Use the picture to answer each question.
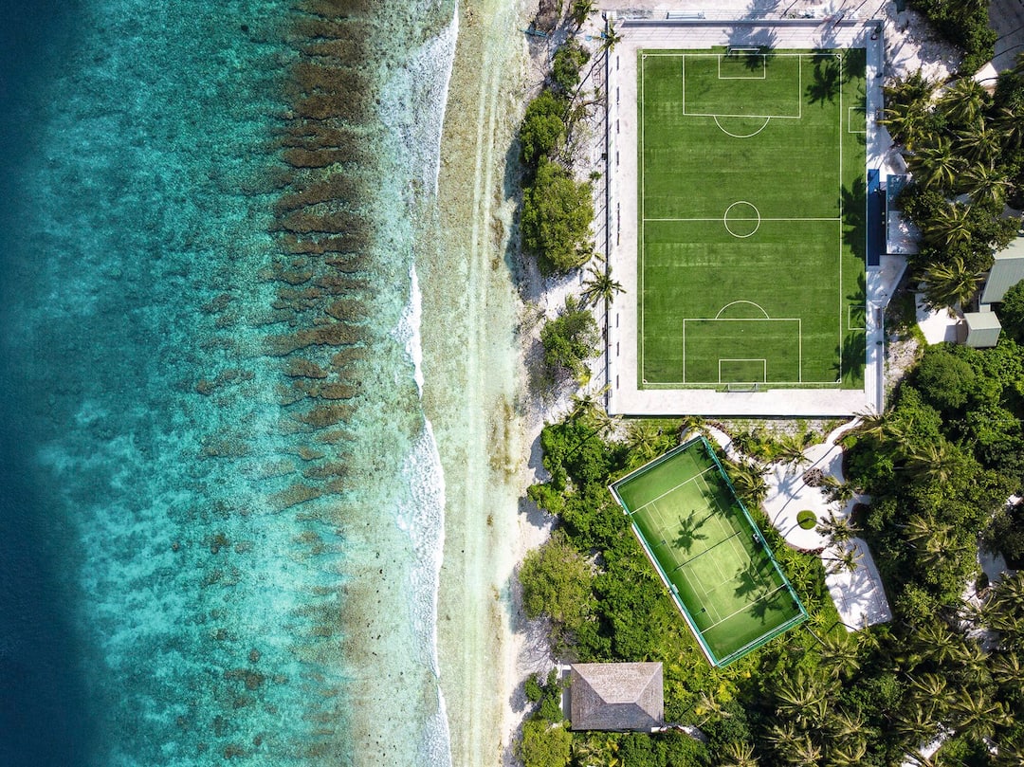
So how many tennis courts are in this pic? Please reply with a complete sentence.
I count 1 tennis court.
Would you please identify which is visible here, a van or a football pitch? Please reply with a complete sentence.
Of the two, only a football pitch appears.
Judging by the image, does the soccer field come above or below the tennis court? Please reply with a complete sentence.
You can see the soccer field above the tennis court in the frame.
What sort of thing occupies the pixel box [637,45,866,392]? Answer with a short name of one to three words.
soccer field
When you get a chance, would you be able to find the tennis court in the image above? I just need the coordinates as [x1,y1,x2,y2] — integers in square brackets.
[614,437,803,663]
